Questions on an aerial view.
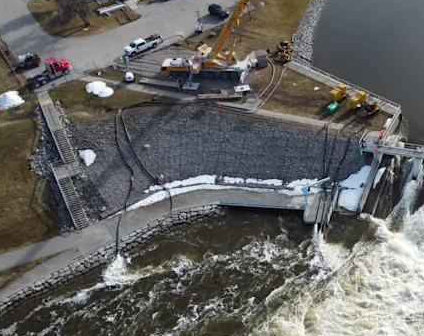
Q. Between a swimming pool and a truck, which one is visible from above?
truck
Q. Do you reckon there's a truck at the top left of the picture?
Yes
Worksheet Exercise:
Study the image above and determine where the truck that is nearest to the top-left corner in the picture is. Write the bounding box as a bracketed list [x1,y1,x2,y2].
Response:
[7,45,44,68]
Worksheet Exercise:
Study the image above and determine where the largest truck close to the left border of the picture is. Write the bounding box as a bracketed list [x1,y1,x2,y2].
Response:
[19,61,71,97]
